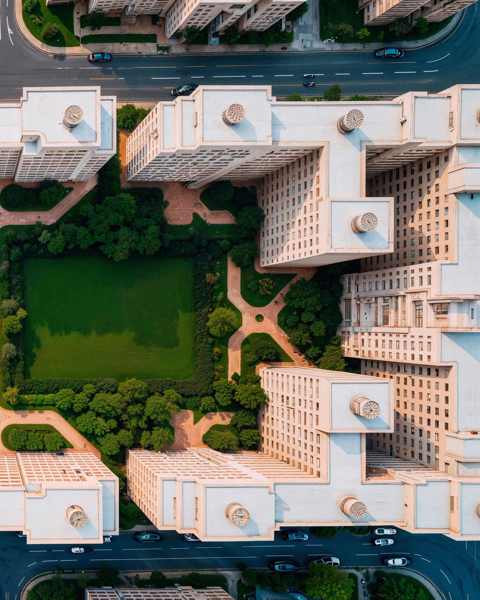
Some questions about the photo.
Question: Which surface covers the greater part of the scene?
buildings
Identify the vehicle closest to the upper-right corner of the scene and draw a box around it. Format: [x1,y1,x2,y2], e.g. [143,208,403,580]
[374,45,403,59]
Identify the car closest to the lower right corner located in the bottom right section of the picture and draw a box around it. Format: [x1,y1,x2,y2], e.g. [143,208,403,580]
[383,556,410,569]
